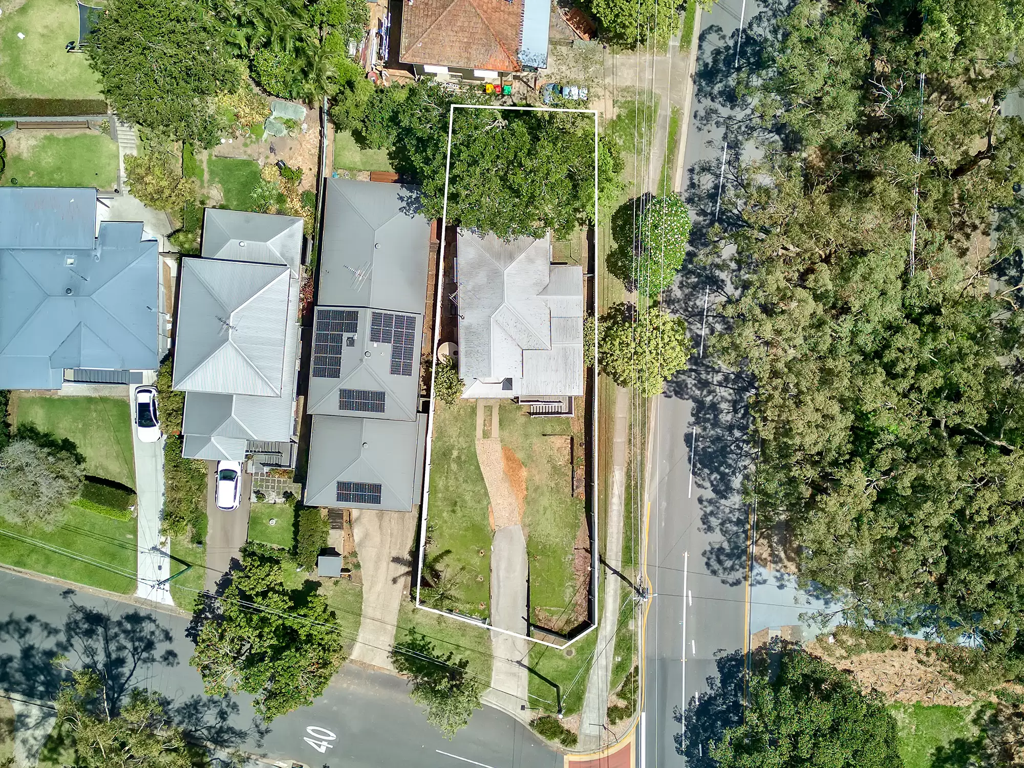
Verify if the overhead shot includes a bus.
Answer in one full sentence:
No, no bus can be seen from above.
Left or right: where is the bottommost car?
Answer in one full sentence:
The bottommost car sits on the left side.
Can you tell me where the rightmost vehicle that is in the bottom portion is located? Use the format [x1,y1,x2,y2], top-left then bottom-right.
[212,461,245,512]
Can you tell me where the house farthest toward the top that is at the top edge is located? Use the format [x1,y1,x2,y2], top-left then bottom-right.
[398,0,552,85]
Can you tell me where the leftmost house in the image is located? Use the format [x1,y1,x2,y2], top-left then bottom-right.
[0,186,170,392]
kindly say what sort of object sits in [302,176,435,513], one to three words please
house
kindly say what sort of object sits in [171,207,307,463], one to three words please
house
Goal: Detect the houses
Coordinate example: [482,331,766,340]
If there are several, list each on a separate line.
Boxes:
[302,176,435,513]
[171,207,307,463]
[0,186,170,392]
[398,0,552,85]
[455,226,585,401]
